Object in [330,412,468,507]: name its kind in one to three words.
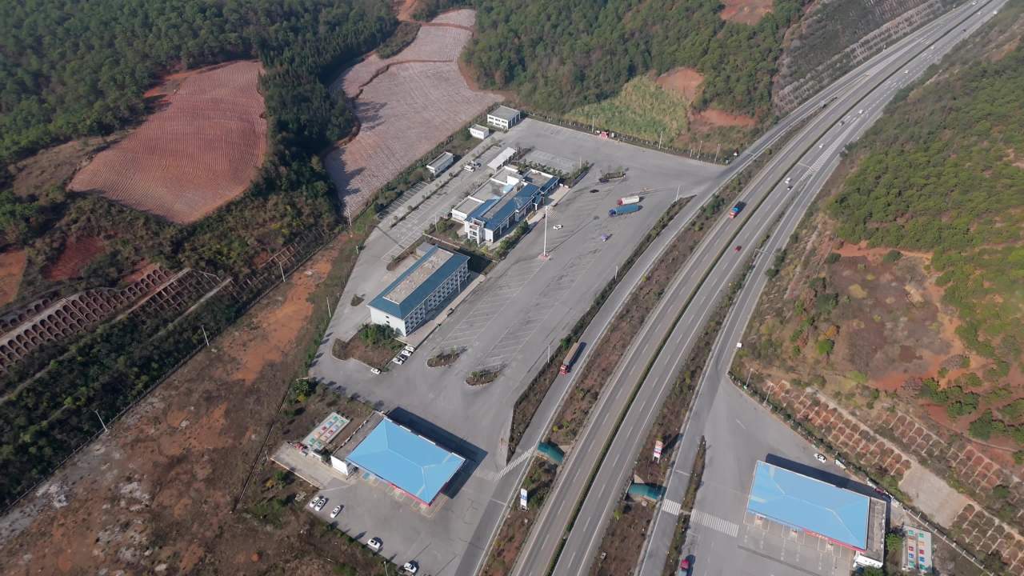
gas station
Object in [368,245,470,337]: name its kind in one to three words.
building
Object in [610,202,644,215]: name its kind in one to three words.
vehicle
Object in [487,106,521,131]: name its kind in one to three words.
building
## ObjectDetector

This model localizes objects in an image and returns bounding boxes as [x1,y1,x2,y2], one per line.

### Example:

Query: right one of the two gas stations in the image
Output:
[748,461,887,576]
